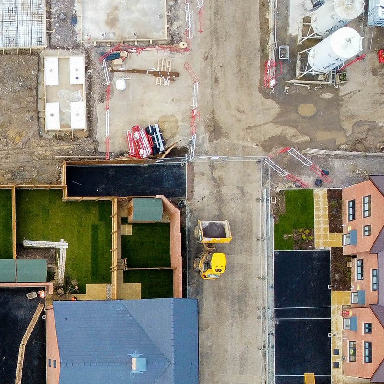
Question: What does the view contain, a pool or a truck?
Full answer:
Looking from above, you can make out a truck.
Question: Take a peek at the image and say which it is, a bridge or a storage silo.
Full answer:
Visible in the photo is a storage silo.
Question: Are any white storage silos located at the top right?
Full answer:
Yes, a white storage silo appears at the top right.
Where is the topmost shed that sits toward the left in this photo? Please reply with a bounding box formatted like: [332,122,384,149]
[128,198,163,223]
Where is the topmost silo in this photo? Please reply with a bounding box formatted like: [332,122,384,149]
[281,0,365,54]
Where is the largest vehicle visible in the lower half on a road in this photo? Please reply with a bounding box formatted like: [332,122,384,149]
[194,221,232,281]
